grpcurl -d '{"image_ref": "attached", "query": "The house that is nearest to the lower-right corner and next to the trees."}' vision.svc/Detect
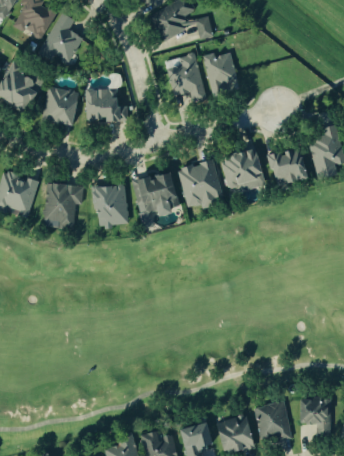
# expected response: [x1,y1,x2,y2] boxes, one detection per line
[301,398,332,434]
